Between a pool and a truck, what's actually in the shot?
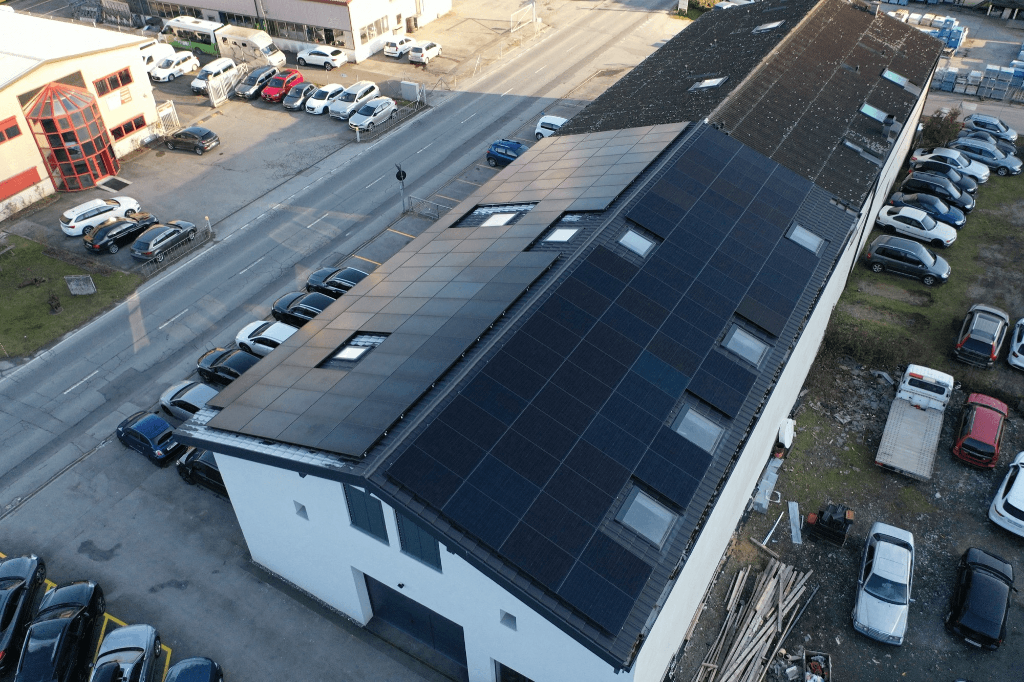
truck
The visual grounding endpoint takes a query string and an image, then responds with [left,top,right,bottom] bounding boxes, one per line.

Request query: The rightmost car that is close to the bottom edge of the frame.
[948,547,1022,650]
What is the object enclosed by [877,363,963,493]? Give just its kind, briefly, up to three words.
truck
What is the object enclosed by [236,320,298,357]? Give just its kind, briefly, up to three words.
car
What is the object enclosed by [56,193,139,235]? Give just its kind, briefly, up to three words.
car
